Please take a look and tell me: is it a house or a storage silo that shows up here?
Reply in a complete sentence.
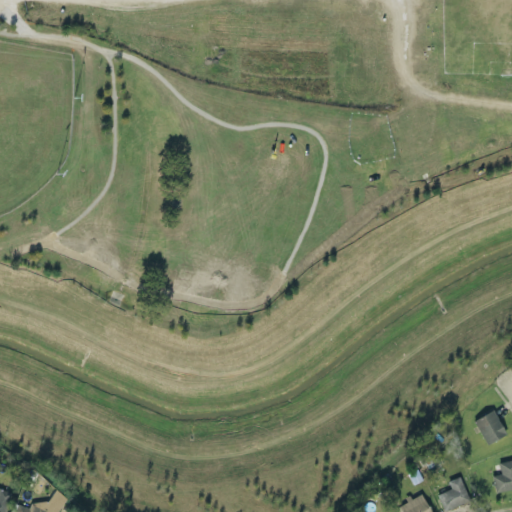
This aerial view contains a house.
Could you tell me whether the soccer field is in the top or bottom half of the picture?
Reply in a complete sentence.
The soccer field sits in the top half of the picture.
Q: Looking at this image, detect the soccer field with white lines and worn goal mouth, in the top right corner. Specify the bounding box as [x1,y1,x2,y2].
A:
[443,0,512,75]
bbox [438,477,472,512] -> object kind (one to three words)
house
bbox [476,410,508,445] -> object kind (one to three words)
house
